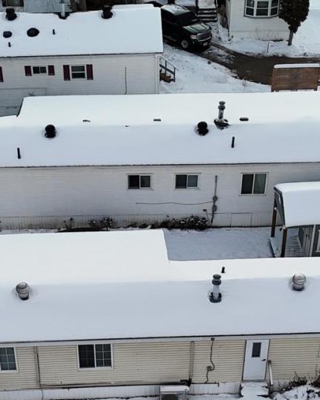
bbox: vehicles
[139,0,210,43]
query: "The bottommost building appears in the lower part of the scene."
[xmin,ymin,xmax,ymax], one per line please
[0,232,320,400]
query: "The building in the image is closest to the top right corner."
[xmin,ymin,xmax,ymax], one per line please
[222,0,295,37]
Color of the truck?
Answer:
black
